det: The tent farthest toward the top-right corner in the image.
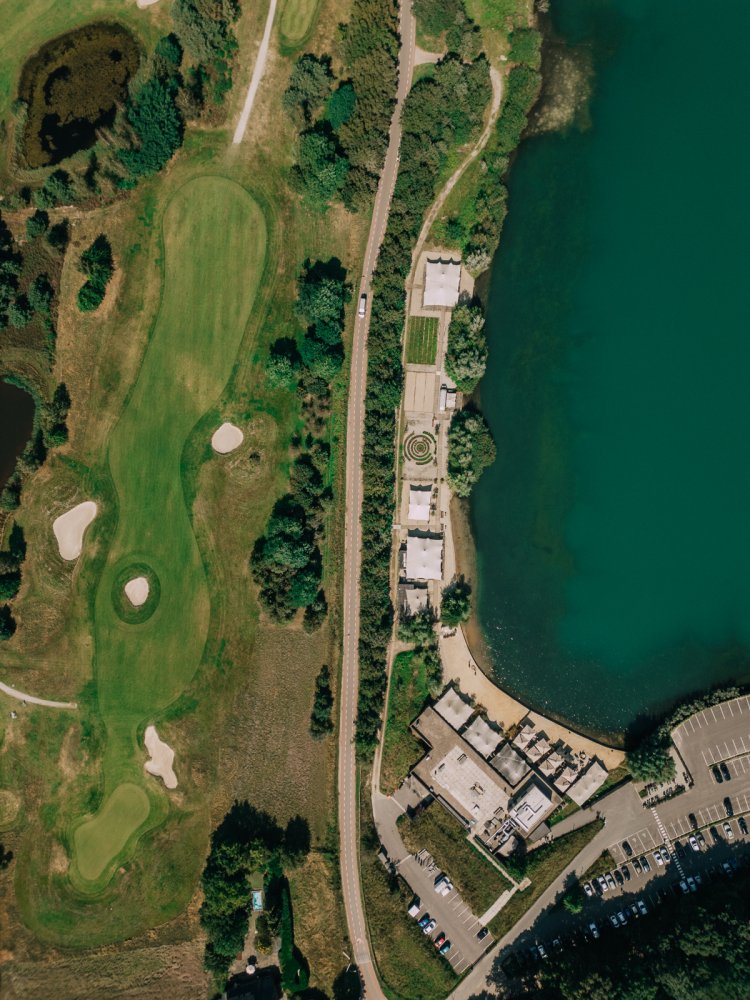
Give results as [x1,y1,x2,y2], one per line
[423,263,461,309]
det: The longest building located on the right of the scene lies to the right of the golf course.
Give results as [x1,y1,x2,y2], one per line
[409,701,562,854]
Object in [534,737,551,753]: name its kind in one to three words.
umbrella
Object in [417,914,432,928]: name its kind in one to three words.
vehicle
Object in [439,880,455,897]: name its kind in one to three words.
vehicle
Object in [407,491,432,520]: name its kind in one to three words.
tent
